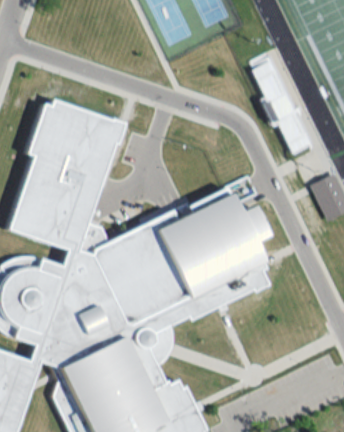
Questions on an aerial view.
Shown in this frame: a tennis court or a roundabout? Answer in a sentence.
The image shows a tennis court.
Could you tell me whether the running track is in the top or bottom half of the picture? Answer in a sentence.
The running track is in the top half of the image.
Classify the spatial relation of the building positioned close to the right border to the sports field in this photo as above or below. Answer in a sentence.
Looking at the scene, the building positioned close to the right border is located below the sports field.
